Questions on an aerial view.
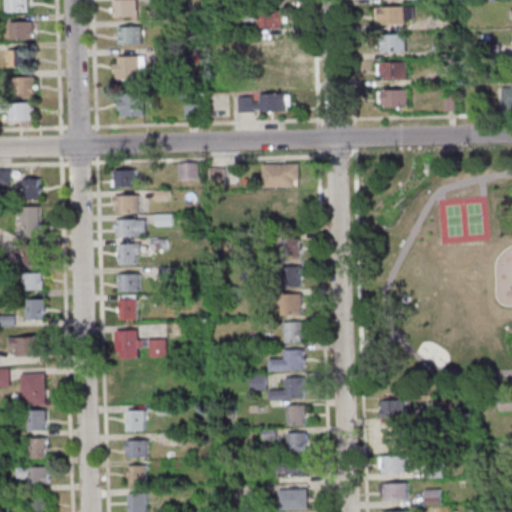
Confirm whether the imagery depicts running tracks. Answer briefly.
No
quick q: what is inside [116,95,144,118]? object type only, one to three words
house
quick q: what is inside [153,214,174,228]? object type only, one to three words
building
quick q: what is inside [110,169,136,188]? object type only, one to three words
house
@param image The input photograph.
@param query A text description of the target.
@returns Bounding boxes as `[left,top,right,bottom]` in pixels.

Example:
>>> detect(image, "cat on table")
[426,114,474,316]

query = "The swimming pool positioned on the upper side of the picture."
[184,190,198,206]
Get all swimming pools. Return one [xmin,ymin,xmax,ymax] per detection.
[184,190,198,206]
[14,468,27,481]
